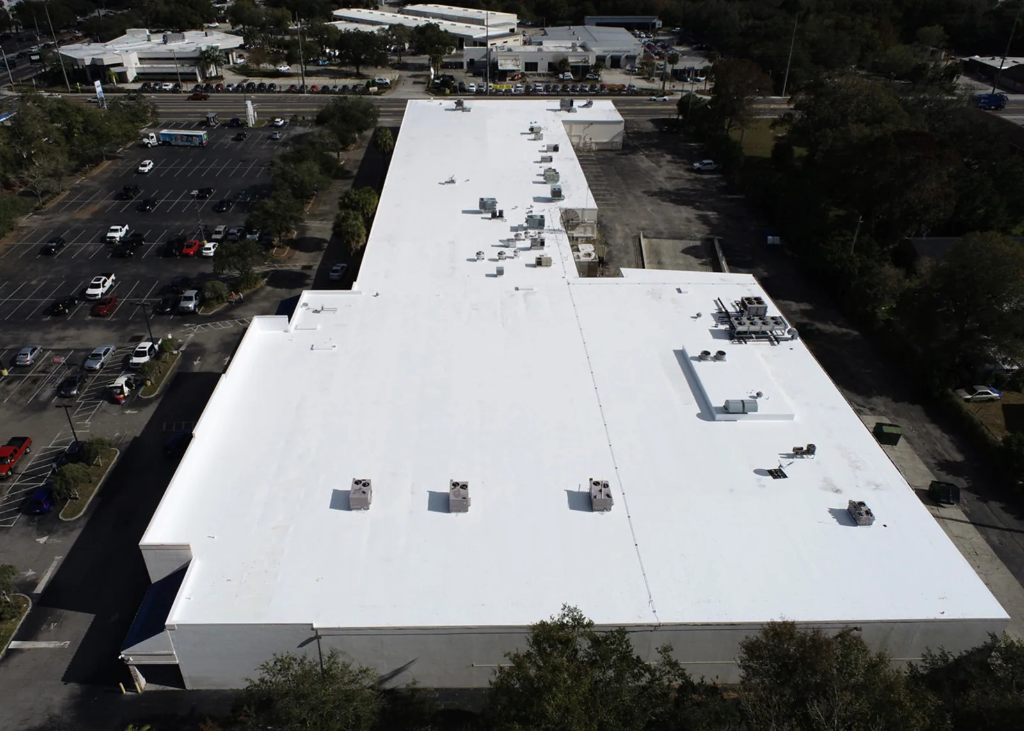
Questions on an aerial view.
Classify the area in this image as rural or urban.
urban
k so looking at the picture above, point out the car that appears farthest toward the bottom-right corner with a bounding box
[959,387,1004,403]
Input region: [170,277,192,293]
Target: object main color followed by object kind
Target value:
black car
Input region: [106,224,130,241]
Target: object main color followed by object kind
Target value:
white vehicle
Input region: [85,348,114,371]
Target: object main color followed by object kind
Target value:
gray car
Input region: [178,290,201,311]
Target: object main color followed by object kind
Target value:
gray car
